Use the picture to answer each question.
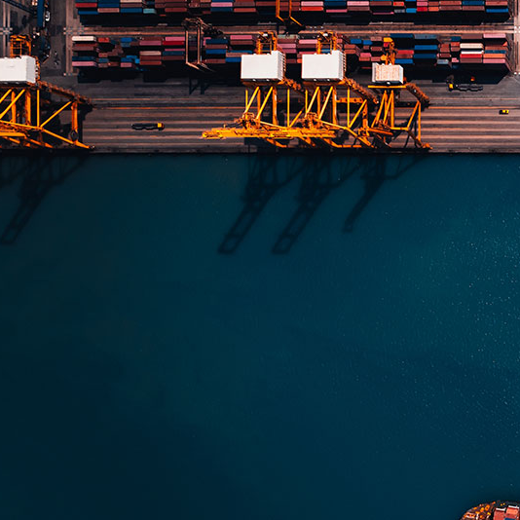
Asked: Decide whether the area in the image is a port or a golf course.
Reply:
port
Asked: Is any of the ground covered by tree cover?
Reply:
No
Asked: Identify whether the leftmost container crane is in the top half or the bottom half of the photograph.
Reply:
top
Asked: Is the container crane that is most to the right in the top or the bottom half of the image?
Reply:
top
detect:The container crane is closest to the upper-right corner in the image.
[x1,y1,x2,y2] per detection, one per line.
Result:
[358,46,432,146]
